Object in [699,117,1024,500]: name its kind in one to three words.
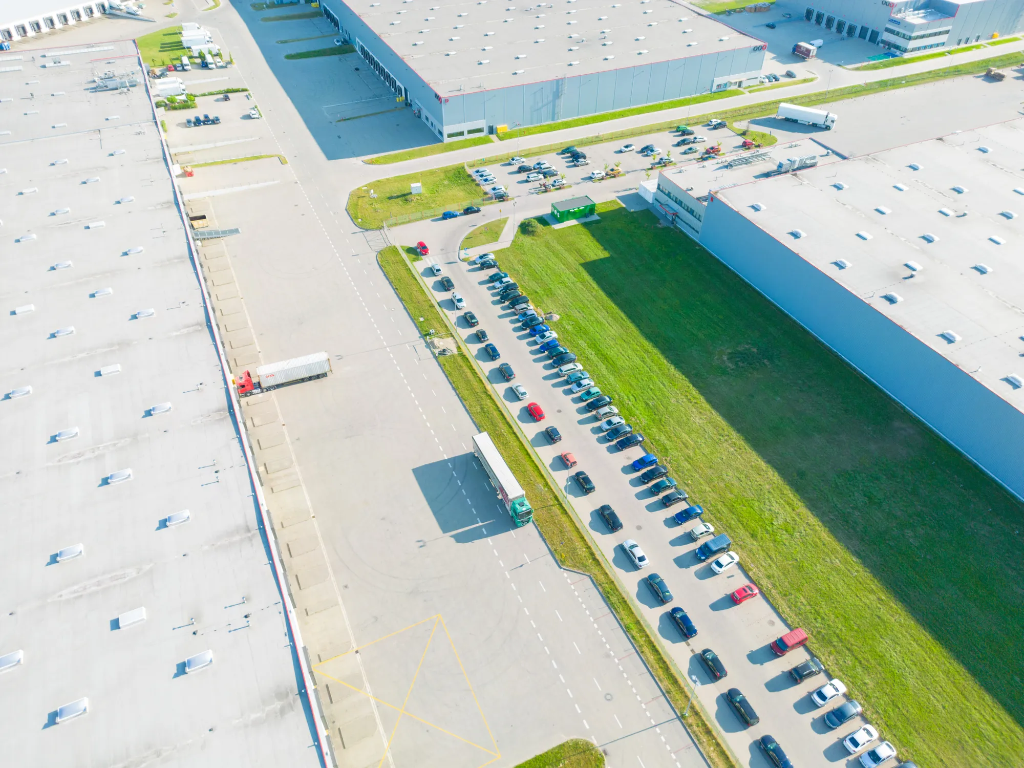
warehouse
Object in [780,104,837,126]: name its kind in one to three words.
truck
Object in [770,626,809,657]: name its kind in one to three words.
van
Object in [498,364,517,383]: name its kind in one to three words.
car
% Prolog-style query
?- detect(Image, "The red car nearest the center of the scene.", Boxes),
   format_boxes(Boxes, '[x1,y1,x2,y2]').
[527,404,546,422]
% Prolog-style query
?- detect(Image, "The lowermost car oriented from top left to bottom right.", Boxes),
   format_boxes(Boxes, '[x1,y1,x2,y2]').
[758,733,795,768]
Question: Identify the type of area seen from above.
industrial area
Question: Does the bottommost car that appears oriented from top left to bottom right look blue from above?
Yes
